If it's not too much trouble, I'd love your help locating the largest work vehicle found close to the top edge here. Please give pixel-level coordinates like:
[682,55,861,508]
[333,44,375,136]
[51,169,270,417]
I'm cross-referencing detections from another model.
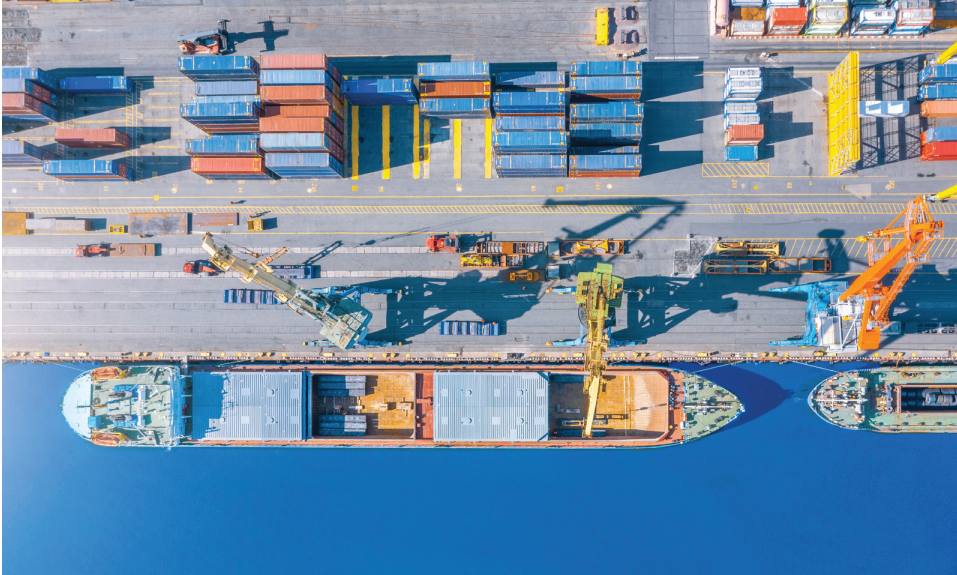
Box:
[174,13,221,56]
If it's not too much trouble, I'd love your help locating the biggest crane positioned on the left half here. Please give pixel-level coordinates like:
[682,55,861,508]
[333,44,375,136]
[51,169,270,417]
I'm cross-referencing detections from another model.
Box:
[189,226,407,358]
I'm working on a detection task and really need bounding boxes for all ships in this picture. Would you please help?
[61,363,745,448]
[805,356,957,434]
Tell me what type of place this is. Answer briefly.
port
